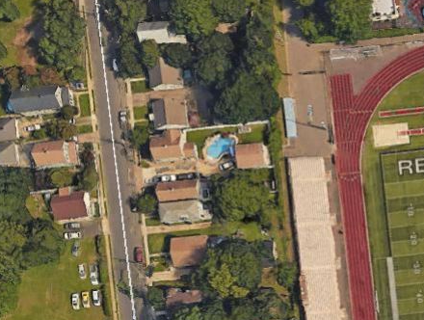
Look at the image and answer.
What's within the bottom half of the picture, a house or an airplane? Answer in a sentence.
The one visible within the bottom half of the picture is a house.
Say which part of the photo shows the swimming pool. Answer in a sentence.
You can find the swimming pool in the center area of the picture.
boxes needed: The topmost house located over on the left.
[138,22,175,44]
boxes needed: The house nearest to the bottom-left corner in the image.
[42,186,98,221]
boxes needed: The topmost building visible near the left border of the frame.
[0,85,81,115]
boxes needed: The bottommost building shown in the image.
[166,286,214,305]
